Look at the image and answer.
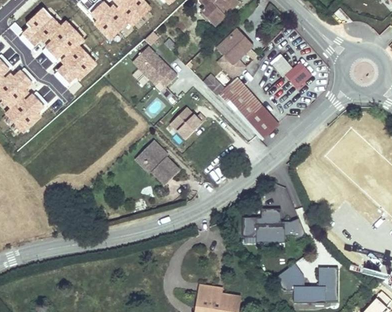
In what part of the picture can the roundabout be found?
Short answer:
top right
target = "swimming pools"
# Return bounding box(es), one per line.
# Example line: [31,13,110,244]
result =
[170,132,185,147]
[144,96,168,120]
